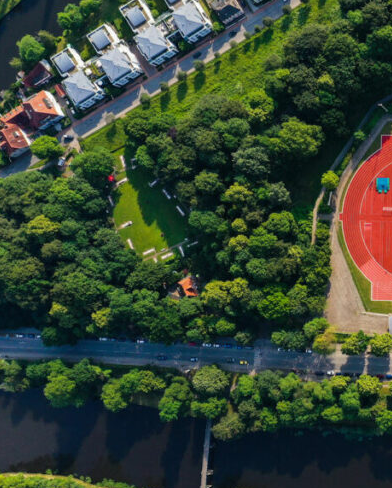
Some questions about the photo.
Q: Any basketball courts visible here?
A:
No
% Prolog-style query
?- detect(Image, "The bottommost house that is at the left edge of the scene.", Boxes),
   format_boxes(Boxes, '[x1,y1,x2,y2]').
[0,123,36,154]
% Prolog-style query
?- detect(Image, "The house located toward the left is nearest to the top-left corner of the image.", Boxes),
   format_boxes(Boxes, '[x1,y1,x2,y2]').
[21,60,56,89]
